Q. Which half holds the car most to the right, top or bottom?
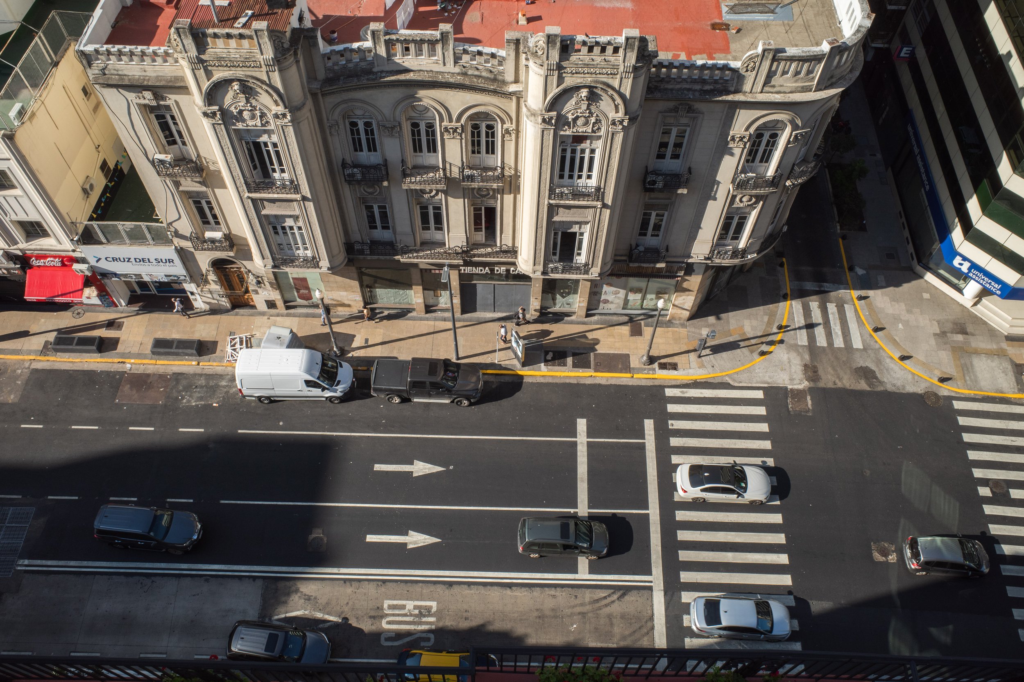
bottom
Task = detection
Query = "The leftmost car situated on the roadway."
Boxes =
[90,506,206,556]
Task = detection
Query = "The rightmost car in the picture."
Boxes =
[898,535,991,581]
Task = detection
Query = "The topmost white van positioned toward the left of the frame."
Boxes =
[232,348,357,403]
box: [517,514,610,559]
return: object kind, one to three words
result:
car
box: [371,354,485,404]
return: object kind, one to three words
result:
truck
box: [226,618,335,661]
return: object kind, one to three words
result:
car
